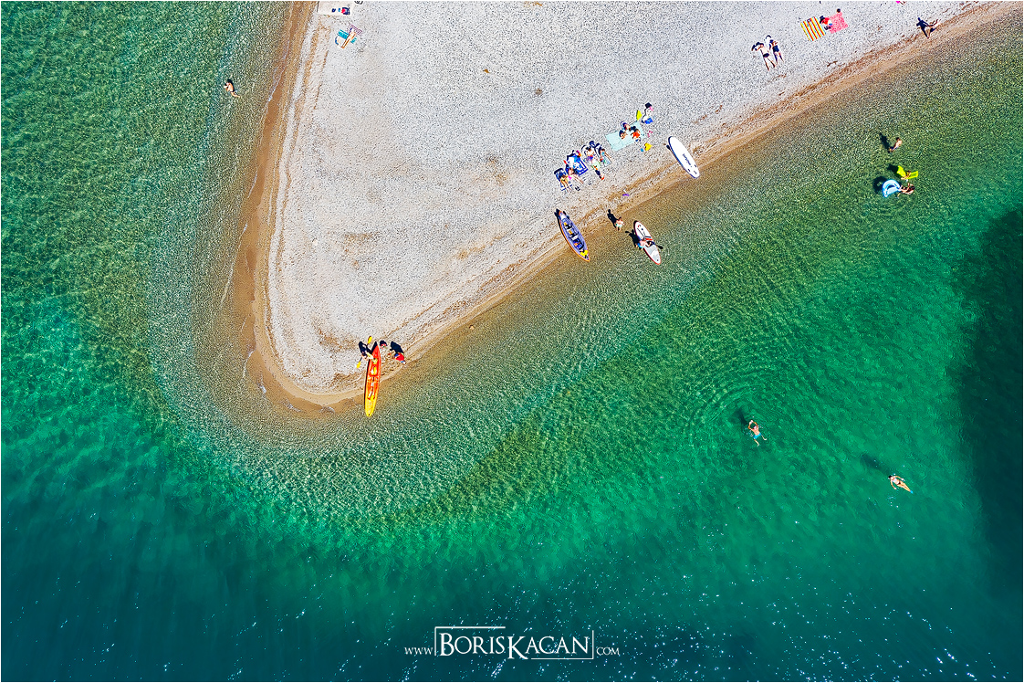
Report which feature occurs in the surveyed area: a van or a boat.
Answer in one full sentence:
The image shows a boat.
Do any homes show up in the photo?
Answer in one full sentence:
No, this view has no home in it.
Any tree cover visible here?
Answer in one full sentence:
No, tree cover can't be seen anywhere here.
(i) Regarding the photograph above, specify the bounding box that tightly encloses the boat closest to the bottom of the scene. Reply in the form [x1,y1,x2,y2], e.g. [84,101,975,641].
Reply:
[364,344,380,417]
